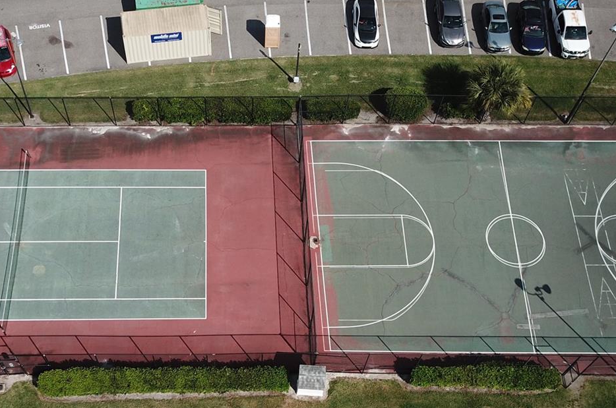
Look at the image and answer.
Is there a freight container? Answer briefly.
Yes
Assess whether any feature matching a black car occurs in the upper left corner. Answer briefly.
No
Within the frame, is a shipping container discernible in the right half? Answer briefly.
No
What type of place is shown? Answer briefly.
sports ground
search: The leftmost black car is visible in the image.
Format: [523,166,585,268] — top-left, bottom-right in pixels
[349,0,381,49]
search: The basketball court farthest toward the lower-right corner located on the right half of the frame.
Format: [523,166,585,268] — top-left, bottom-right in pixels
[298,126,616,375]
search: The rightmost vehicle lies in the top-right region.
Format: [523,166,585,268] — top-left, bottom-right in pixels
[545,0,589,61]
